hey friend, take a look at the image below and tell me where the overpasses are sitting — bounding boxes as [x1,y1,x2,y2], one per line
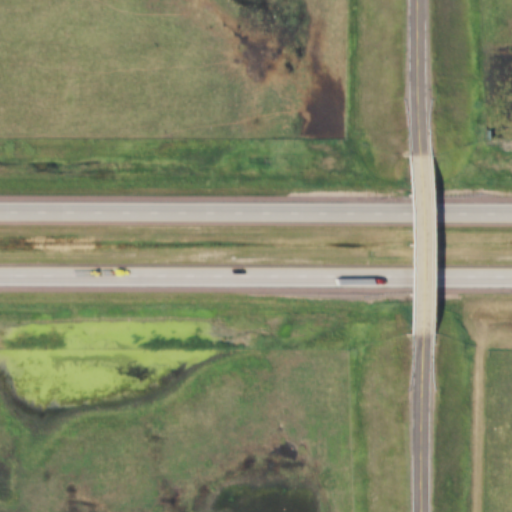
[406,146,438,344]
